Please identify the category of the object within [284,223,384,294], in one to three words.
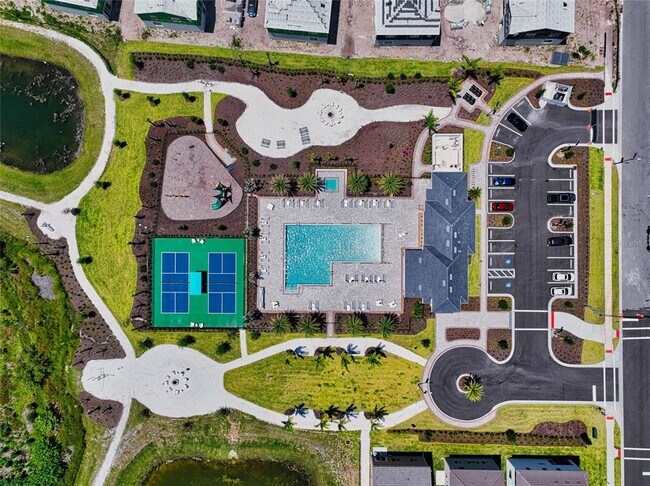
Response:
swimming pool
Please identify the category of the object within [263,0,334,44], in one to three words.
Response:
house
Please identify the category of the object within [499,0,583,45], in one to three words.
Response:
house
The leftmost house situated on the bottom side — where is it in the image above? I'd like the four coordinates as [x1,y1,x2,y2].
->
[371,446,430,486]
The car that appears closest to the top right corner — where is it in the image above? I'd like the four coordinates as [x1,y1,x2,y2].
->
[506,113,527,133]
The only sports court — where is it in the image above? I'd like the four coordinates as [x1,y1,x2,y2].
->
[154,238,244,327]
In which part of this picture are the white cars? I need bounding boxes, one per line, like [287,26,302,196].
[551,272,573,282]
[550,286,572,296]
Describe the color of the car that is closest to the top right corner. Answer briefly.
black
